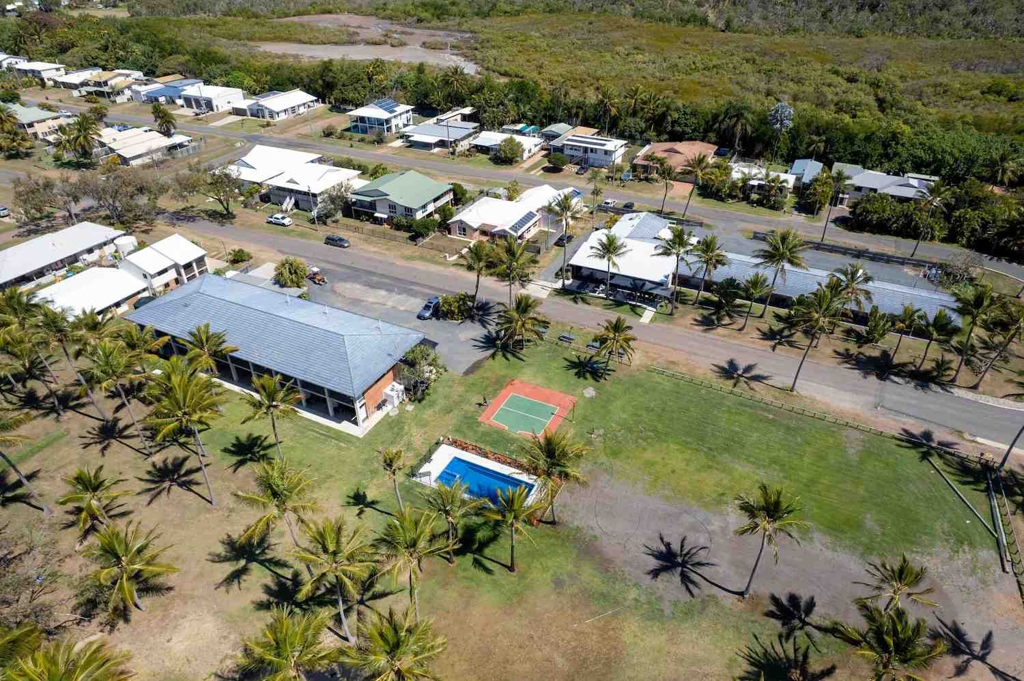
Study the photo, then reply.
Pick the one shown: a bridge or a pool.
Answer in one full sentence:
Visible in the photo is a pool.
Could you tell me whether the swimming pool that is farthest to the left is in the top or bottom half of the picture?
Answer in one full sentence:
You can find the swimming pool that is farthest to the left in the bottom half.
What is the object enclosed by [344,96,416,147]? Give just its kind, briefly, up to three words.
house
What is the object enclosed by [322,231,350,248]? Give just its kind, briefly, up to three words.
car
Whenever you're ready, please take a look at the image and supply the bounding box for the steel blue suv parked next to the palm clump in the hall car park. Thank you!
[415,295,440,320]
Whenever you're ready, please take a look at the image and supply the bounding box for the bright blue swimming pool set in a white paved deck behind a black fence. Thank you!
[413,442,551,523]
